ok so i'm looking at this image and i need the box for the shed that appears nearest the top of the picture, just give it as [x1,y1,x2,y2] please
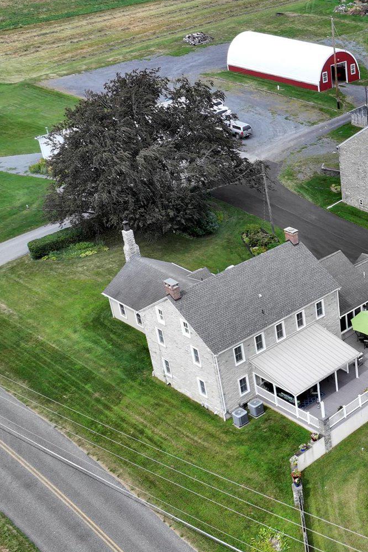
[233,31,358,91]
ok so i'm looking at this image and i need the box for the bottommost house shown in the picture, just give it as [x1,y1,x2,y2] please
[104,225,368,420]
